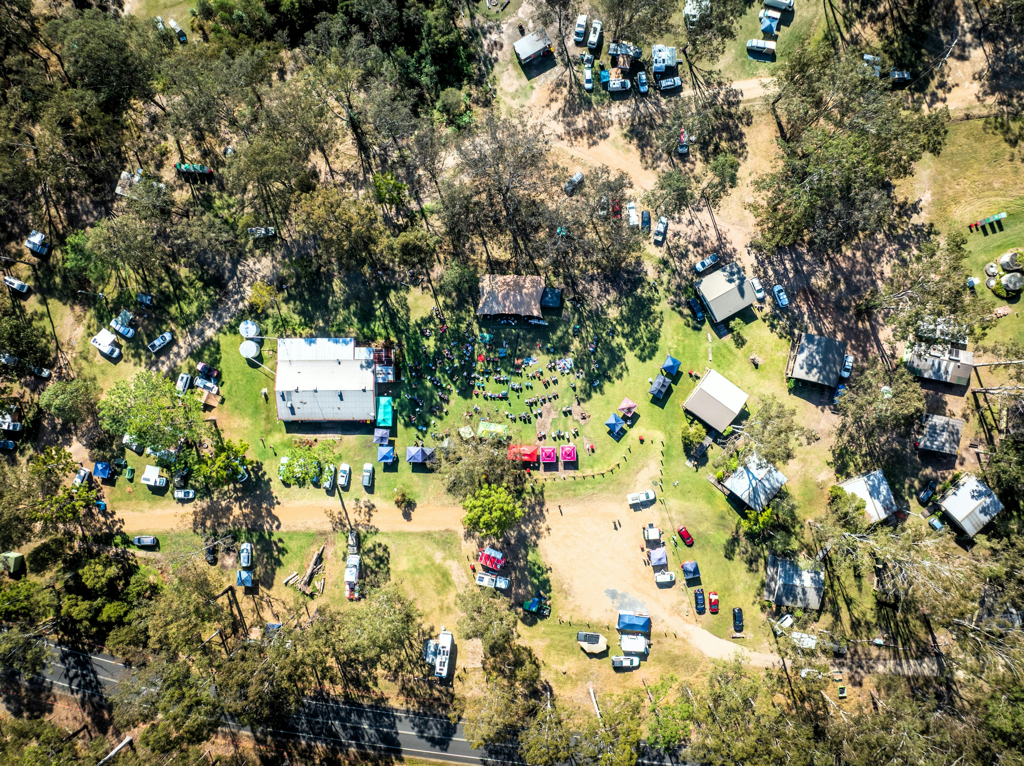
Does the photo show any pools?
No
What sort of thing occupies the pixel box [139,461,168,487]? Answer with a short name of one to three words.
truck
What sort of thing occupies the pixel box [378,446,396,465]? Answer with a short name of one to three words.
gazebo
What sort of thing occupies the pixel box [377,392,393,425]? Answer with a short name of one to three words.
tent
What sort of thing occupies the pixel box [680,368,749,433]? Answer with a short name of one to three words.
building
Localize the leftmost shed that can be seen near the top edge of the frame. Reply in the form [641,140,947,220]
[514,28,551,65]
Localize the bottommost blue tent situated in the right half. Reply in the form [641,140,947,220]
[618,611,648,631]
